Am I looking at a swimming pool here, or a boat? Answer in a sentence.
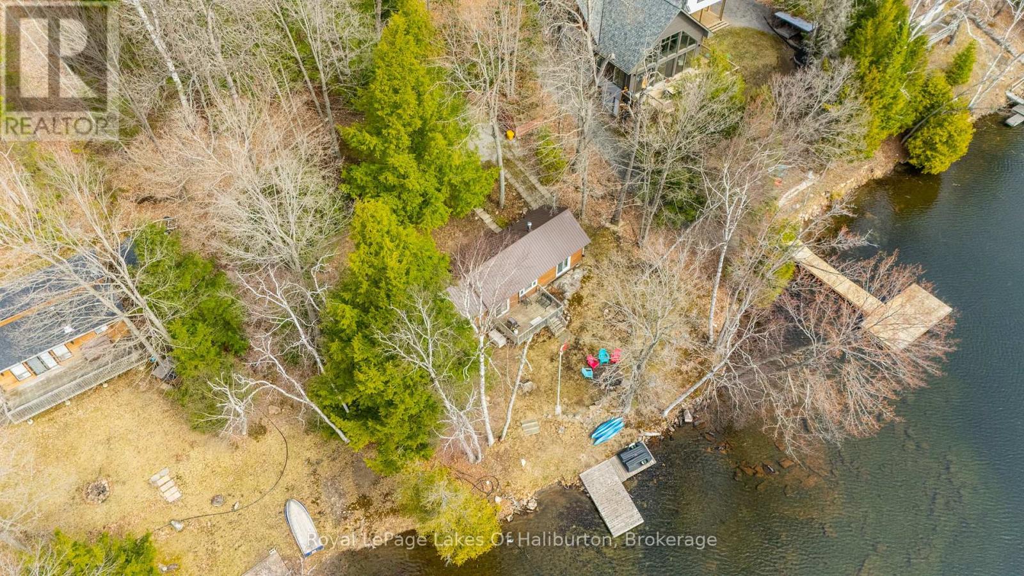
I can see a boat in this picture.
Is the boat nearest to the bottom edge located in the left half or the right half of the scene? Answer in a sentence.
The boat nearest to the bottom edge appears in the left half of the scene.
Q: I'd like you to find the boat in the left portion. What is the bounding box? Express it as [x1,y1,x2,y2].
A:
[285,496,319,554]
